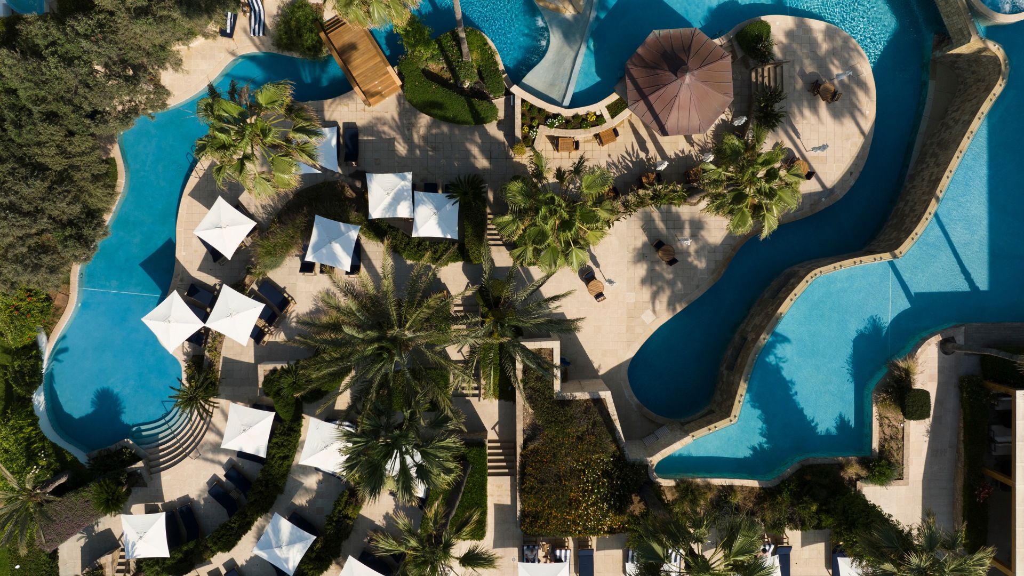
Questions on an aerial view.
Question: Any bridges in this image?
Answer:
Yes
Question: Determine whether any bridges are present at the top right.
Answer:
No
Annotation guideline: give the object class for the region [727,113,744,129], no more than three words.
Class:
umbrella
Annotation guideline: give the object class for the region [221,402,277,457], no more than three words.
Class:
umbrella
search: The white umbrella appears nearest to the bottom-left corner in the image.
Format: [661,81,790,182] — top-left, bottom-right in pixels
[123,509,173,560]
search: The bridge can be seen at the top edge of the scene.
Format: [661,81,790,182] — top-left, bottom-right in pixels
[314,4,403,115]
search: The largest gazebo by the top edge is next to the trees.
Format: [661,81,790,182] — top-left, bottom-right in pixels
[625,27,734,139]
